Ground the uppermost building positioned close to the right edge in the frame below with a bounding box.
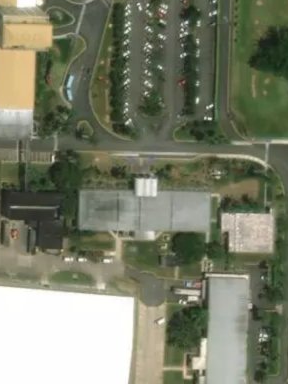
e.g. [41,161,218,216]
[219,211,274,252]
